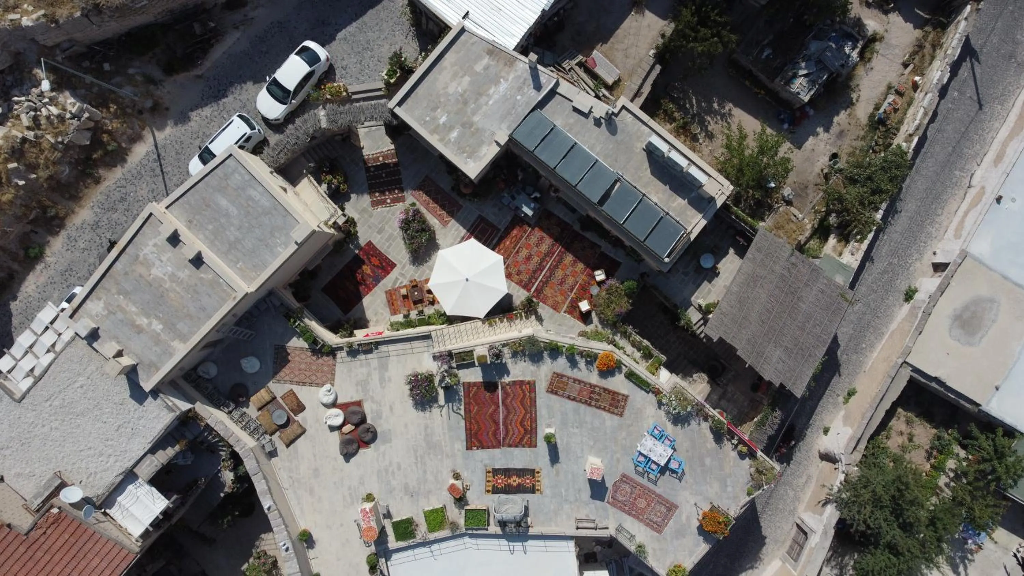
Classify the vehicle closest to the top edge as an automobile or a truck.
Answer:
automobile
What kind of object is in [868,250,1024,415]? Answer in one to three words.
house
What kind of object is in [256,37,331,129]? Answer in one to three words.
car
